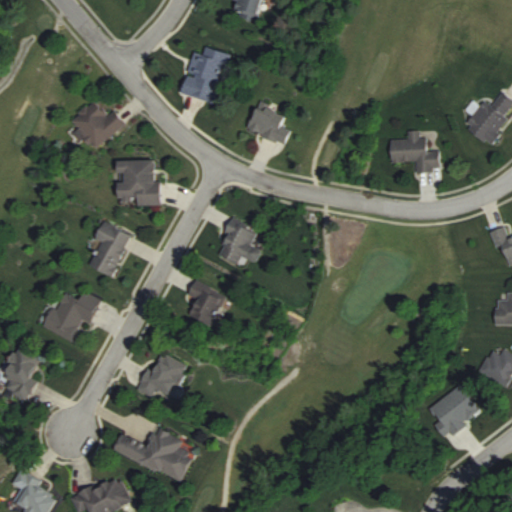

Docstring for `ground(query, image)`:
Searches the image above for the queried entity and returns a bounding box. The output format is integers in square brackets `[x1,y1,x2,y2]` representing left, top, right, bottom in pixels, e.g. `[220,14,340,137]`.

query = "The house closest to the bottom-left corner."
[13,471,55,512]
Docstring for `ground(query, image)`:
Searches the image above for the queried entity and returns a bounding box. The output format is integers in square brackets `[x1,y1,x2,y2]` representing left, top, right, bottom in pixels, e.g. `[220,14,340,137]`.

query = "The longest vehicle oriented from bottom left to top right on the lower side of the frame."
[82,438,94,454]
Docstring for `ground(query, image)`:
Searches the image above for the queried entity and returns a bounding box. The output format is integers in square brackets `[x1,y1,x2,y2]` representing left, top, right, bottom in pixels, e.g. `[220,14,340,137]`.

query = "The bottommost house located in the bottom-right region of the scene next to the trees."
[430,388,476,437]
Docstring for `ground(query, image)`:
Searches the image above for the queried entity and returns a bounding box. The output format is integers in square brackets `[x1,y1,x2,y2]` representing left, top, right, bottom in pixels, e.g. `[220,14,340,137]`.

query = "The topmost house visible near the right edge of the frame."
[467,88,512,144]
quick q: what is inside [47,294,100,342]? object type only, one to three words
house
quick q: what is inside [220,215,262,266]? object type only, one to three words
house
